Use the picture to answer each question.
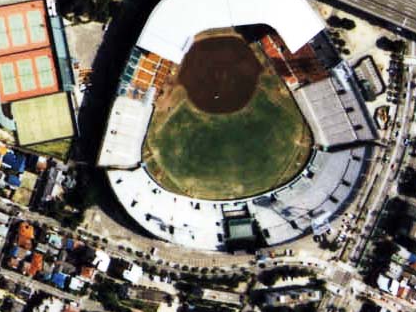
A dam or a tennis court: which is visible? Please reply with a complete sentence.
The image shows a tennis court.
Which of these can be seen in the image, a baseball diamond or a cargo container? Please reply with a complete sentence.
I can see a baseball diamond in this picture.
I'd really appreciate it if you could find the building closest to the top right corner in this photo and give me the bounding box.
[352,58,387,100]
